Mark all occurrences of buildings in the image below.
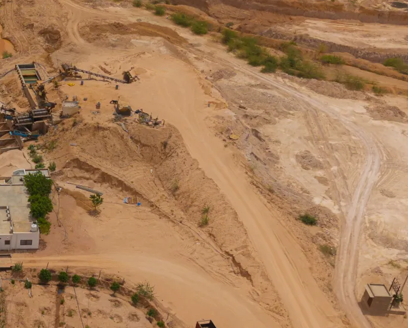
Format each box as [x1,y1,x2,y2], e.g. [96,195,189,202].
[362,282,407,313]
[0,184,39,250]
